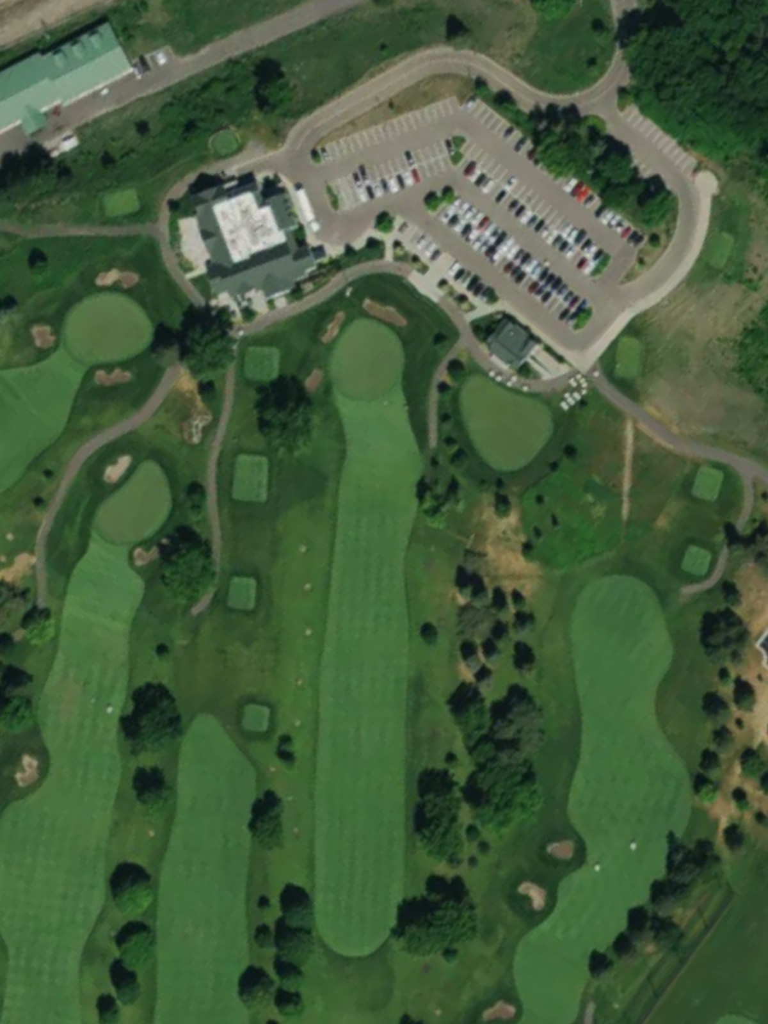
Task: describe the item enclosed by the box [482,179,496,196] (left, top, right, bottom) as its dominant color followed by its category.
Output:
white vehicle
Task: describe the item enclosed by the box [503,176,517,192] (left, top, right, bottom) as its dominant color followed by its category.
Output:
white vehicle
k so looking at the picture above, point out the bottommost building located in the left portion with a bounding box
[194,182,326,299]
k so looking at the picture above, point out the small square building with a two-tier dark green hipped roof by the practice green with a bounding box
[487,316,539,369]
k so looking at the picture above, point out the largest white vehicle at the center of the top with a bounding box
[294,190,320,228]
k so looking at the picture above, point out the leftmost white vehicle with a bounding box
[51,135,78,154]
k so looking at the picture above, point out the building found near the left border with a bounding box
[0,23,133,135]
